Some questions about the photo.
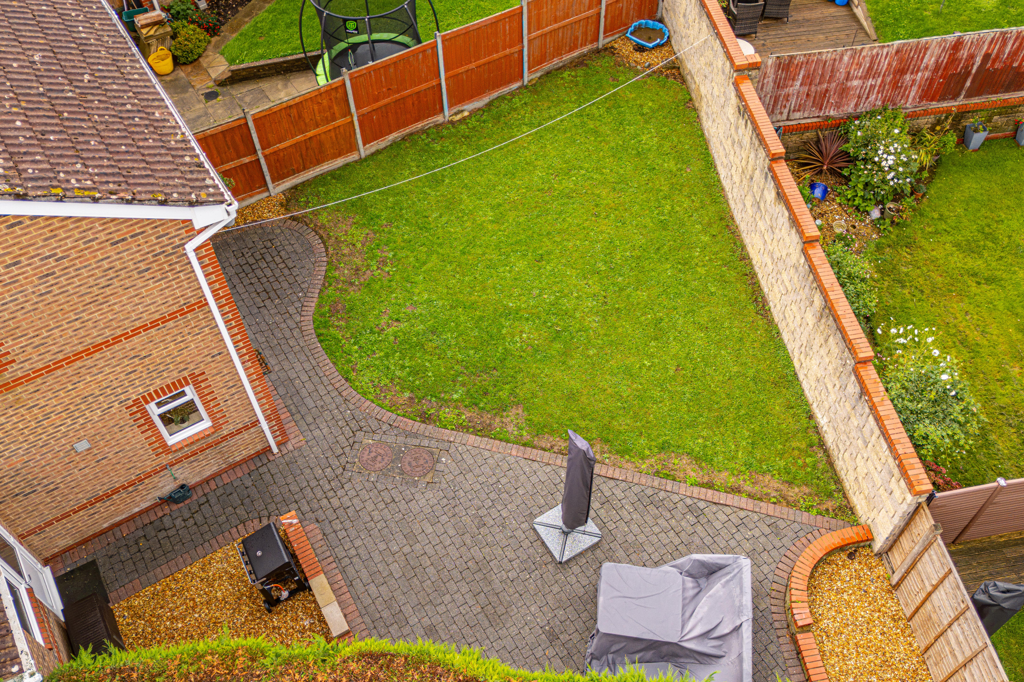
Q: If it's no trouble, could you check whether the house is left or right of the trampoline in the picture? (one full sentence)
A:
Compared with the trampoline, the house is located further to the left.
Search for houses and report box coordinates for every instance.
[0,0,290,682]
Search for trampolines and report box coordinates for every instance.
[307,0,430,87]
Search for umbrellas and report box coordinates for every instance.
[532,432,602,566]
